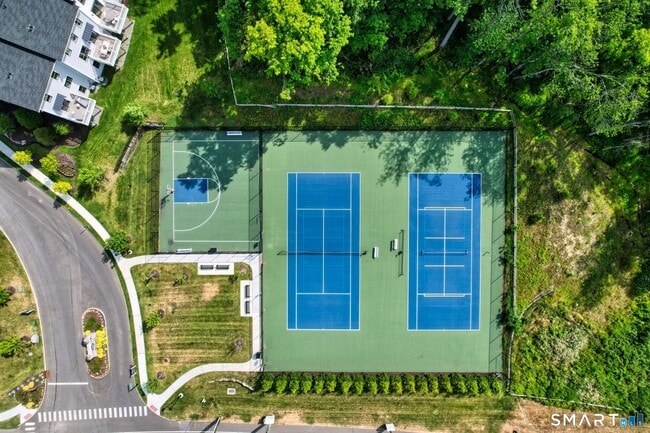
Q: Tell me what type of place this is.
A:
sports ground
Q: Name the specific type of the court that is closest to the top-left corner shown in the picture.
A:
basketball court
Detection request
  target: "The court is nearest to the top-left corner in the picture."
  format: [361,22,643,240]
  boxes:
[160,130,262,253]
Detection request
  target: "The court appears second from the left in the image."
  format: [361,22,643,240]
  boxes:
[262,130,384,372]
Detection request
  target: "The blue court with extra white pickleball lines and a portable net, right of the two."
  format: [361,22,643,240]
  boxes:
[384,130,506,373]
